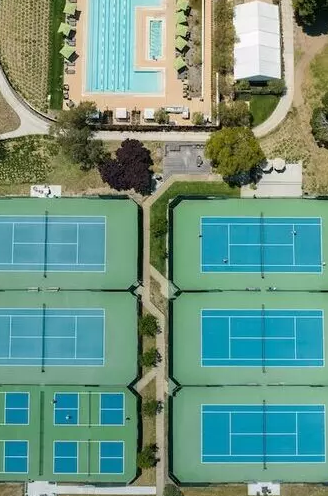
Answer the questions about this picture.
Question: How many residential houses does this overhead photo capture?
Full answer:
The count of residential houses is 0.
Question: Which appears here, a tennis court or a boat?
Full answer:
Of the two, only a tennis court appears.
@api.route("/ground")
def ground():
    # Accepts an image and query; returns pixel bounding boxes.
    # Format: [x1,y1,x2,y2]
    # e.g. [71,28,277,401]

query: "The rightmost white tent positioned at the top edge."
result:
[231,0,281,84]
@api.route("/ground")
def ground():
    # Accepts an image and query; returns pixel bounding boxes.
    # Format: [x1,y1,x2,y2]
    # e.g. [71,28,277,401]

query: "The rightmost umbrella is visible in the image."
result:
[273,158,286,172]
